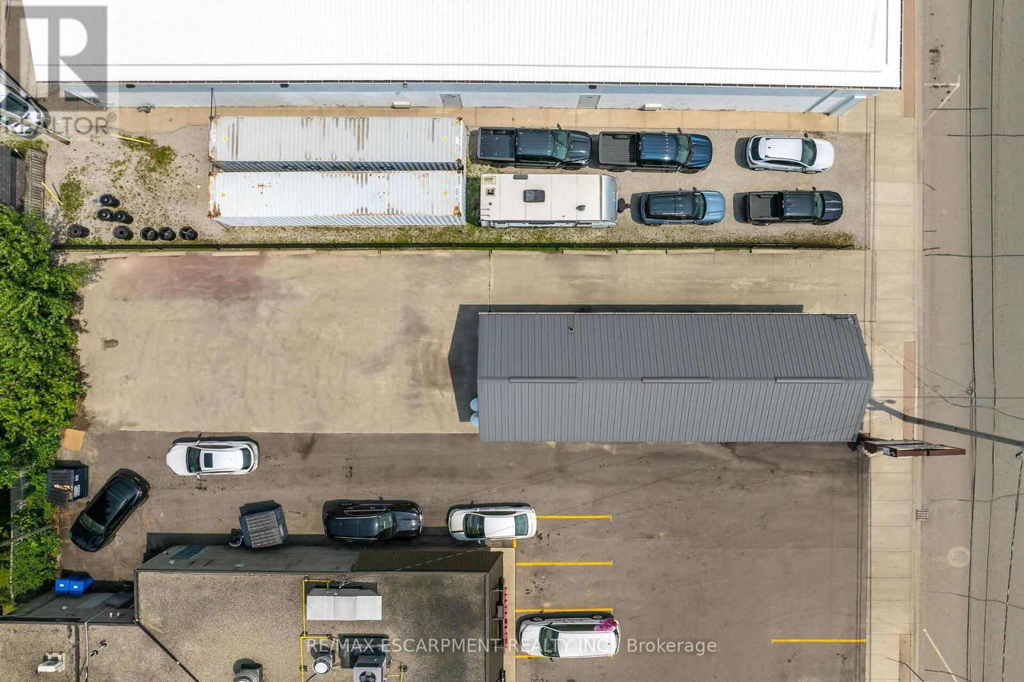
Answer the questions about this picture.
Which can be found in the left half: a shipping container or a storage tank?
shipping container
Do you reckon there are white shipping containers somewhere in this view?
Yes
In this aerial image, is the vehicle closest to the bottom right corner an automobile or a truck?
automobile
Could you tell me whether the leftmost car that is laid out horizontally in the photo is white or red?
white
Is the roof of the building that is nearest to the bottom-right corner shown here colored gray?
Yes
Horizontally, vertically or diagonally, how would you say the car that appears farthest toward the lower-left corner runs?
diagonally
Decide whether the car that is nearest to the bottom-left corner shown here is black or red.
black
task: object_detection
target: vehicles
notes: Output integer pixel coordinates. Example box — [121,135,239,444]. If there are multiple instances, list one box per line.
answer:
[640,186,725,226]
[598,126,713,173]
[744,133,834,174]
[448,507,537,549]
[0,64,51,137]
[747,184,845,226]
[324,505,424,550]
[166,440,262,481]
[519,614,621,664]
[477,121,591,168]
[71,467,151,553]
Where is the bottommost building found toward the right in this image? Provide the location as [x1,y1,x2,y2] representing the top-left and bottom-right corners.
[477,312,873,442]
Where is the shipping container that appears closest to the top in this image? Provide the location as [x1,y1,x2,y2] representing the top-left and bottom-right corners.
[210,116,466,174]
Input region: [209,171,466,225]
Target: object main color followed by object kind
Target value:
white shipping container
